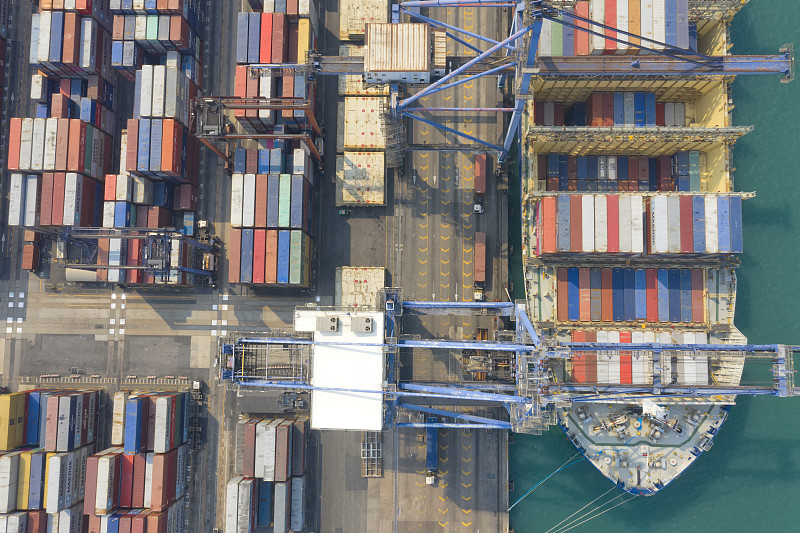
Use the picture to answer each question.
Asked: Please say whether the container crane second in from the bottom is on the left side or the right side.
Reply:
left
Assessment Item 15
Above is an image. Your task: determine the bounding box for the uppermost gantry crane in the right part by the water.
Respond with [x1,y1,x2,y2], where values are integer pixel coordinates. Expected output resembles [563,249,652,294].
[223,0,794,181]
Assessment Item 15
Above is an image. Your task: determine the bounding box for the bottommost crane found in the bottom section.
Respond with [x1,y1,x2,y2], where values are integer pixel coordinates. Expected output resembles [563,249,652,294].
[223,284,800,440]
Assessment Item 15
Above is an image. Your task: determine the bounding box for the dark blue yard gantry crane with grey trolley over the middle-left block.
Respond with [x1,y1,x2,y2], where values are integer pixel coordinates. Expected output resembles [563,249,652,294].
[60,224,220,281]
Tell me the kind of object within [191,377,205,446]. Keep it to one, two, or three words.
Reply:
vehicle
